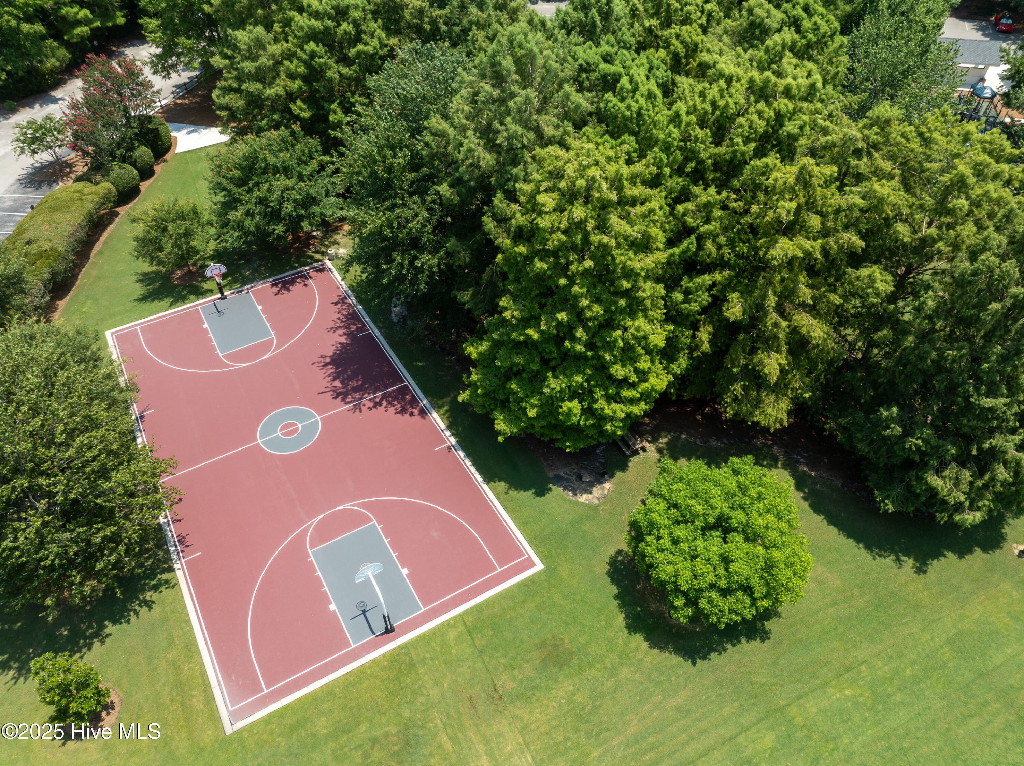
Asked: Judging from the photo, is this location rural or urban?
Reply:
rural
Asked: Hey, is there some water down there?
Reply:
No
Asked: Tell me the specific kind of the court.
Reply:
basketball court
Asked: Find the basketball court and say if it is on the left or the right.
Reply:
left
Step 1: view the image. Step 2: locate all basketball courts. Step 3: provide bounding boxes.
[104,259,543,735]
